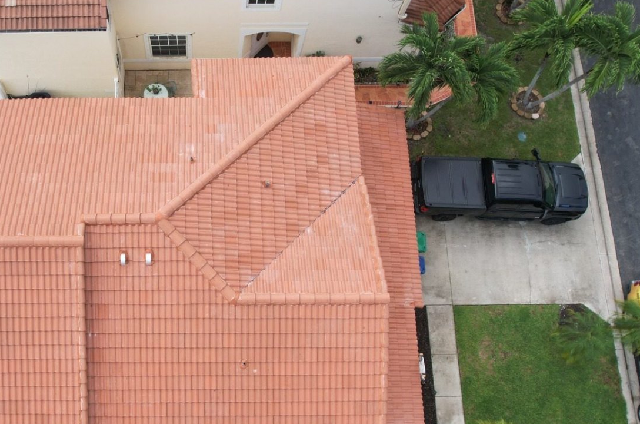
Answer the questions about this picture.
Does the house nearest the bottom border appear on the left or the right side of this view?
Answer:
left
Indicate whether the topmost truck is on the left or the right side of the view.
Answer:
right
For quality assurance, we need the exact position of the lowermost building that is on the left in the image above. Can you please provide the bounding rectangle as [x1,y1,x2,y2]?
[0,53,426,424]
